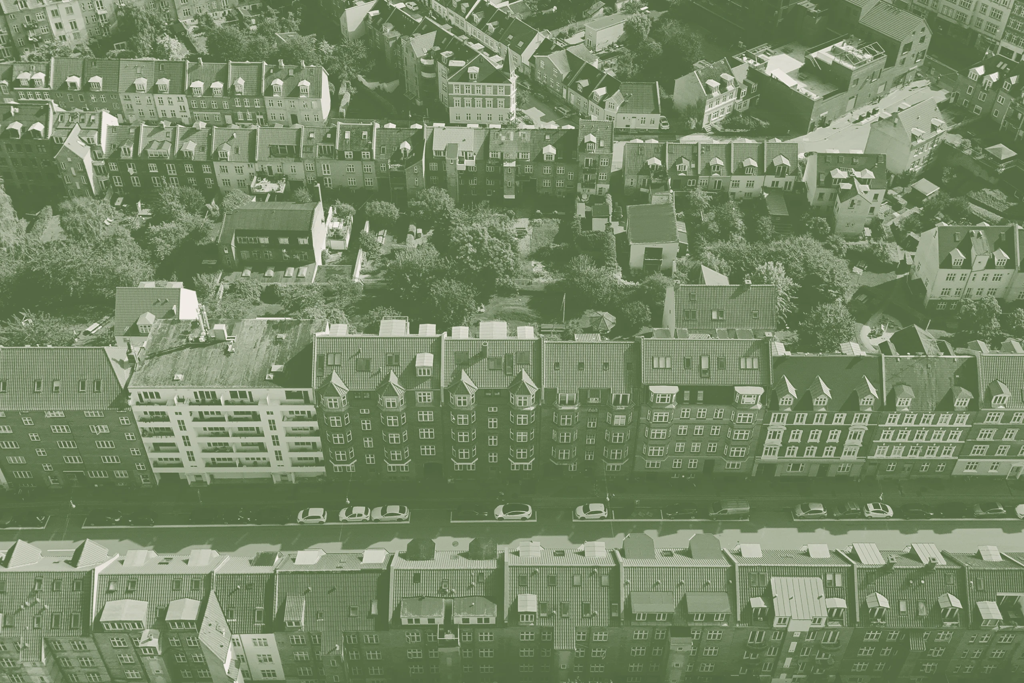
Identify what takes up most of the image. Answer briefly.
buildings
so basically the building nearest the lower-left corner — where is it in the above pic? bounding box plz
[0,537,117,683]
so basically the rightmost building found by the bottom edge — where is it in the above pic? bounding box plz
[945,541,1024,683]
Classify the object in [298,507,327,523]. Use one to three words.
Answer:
car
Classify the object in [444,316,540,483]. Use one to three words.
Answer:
building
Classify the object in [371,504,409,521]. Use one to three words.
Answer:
car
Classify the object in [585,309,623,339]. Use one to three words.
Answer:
gazebo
